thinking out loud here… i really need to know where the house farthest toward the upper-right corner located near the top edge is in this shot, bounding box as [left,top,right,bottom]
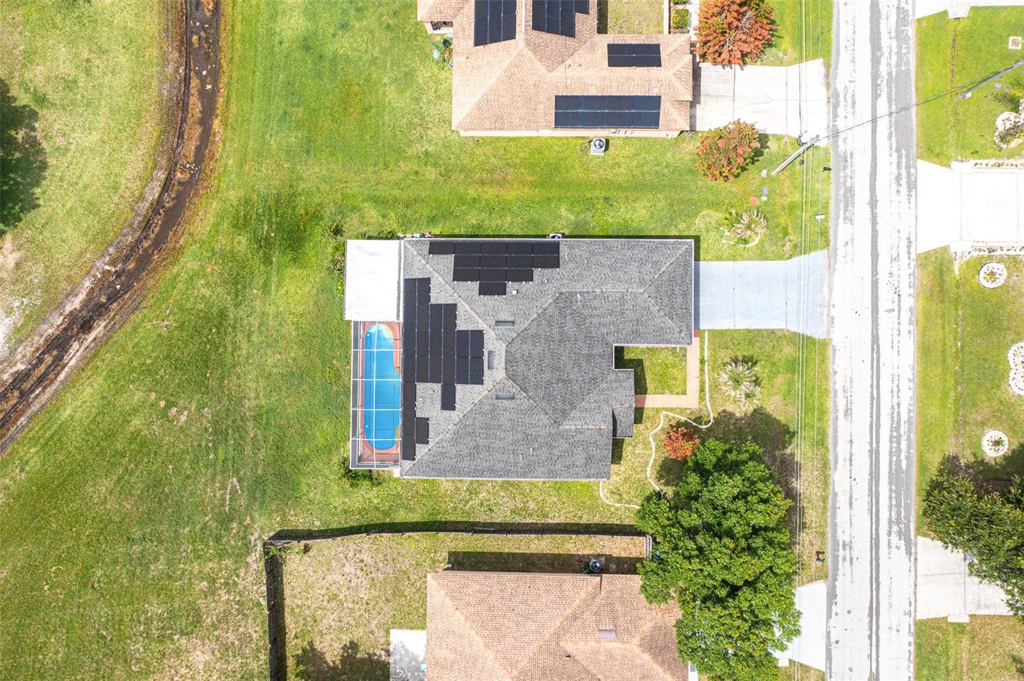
[417,0,693,138]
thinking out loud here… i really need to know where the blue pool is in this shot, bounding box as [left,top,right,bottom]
[360,321,401,454]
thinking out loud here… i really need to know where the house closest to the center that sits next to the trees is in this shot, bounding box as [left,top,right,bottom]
[343,238,695,481]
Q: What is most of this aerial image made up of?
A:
grass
